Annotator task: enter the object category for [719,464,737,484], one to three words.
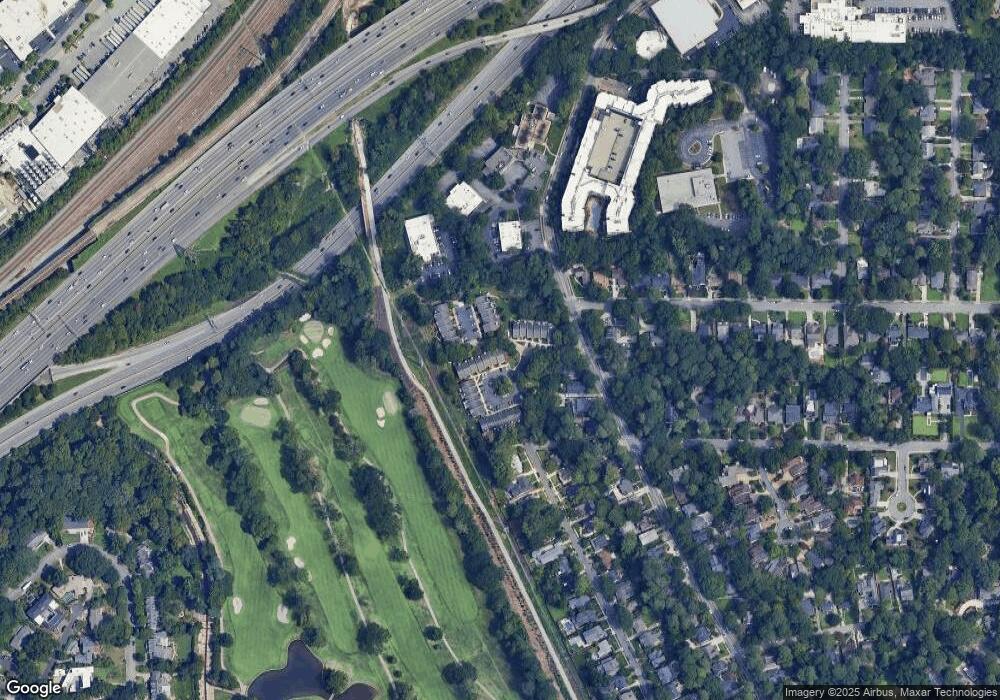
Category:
house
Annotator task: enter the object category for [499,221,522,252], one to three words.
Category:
building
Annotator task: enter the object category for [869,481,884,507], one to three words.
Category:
house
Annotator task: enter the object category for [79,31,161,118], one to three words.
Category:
building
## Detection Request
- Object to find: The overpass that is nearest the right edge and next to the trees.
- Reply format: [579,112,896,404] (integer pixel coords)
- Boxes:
[438,0,641,62]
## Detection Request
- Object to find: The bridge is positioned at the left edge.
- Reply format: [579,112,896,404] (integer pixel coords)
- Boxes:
[0,226,100,310]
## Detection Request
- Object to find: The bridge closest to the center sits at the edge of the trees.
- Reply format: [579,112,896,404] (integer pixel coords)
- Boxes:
[358,168,382,262]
